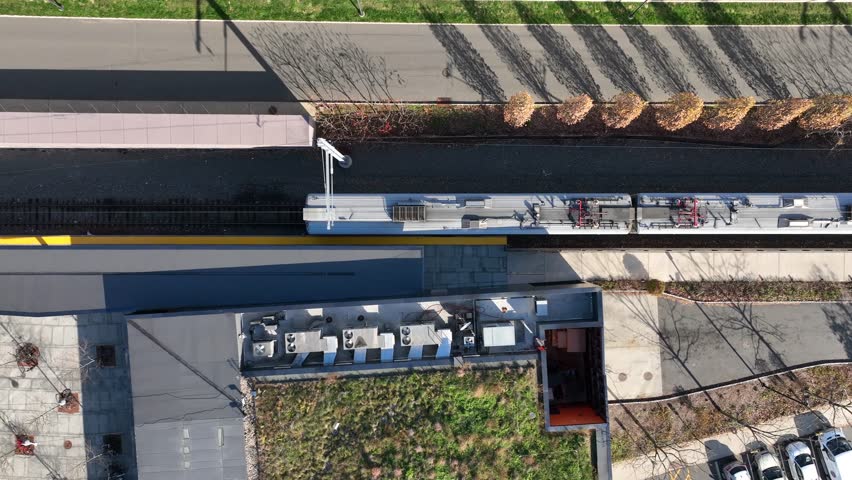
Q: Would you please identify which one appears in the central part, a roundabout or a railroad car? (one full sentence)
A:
The one visible in the central part is a railroad car.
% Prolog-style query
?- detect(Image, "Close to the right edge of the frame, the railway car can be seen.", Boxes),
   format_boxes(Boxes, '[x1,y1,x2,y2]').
[627,194,852,235]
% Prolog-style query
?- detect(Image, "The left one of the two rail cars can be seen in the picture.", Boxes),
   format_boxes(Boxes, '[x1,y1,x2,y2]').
[304,194,634,235]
